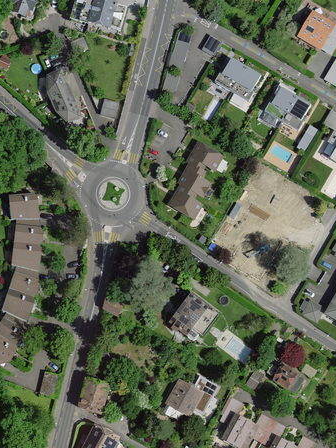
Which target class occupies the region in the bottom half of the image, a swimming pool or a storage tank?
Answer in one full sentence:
Visible in the bottom half of the image is a swimming pool.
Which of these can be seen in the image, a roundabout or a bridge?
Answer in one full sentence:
Looking from above, you can make out a roundabout.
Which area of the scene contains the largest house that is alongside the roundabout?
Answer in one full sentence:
You can find the largest house that is alongside the roundabout in the center area of the picture.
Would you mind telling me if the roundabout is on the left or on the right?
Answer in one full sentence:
It is on the left.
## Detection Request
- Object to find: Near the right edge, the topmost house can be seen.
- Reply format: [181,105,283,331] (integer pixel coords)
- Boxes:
[296,10,336,54]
